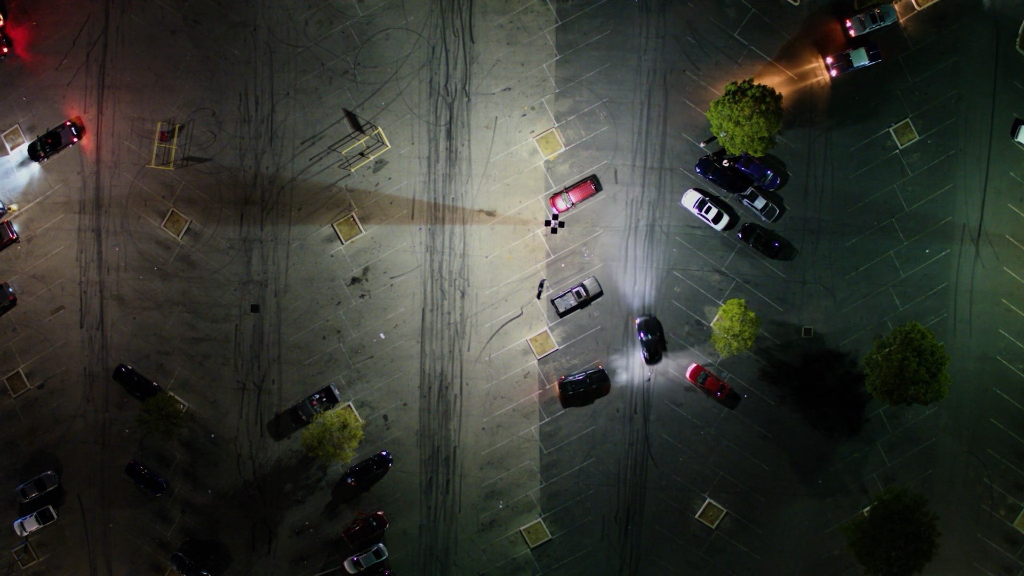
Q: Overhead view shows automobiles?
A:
Yes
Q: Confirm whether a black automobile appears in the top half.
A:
Yes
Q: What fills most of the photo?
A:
paved ground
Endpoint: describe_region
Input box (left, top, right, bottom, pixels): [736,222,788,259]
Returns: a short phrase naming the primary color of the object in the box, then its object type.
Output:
black car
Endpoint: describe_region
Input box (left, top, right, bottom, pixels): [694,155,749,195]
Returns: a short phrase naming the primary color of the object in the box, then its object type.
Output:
black car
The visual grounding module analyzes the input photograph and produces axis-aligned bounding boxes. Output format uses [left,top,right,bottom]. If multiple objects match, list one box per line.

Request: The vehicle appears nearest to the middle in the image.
[550,276,604,318]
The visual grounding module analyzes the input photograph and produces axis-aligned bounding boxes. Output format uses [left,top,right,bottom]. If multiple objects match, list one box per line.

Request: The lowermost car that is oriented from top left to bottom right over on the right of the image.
[686,364,736,406]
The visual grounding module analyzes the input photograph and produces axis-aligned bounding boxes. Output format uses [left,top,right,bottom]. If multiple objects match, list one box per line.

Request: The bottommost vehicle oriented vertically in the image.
[635,314,662,365]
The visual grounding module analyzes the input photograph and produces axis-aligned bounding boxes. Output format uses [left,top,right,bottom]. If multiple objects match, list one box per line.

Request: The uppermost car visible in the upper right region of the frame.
[846,3,897,38]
